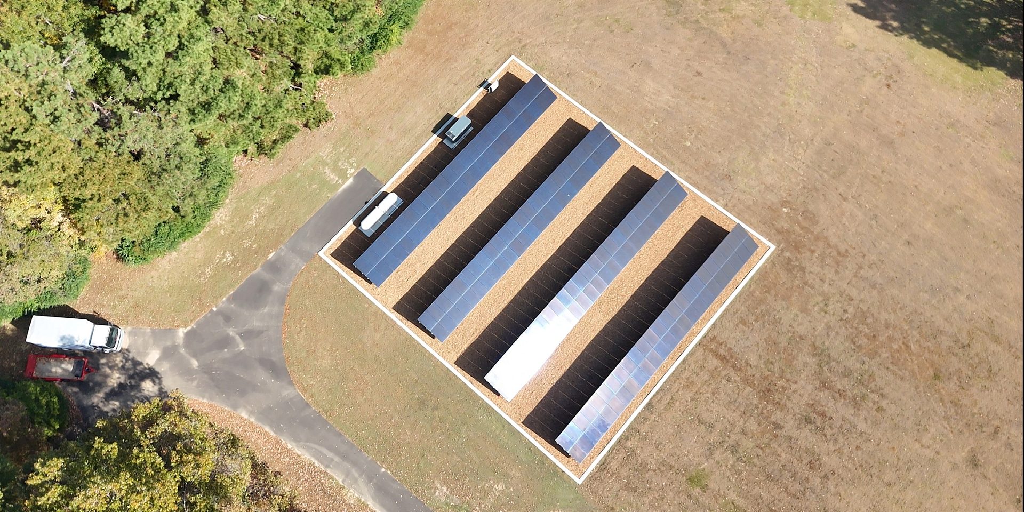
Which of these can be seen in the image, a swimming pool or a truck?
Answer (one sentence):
This aerial view contains a truck.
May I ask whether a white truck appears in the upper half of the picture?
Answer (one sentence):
No, I see no white truck in the upper half of the picture.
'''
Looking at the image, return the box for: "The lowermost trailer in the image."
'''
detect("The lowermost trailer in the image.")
[25,353,100,383]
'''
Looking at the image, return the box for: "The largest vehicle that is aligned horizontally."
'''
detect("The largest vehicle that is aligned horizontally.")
[25,315,127,355]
